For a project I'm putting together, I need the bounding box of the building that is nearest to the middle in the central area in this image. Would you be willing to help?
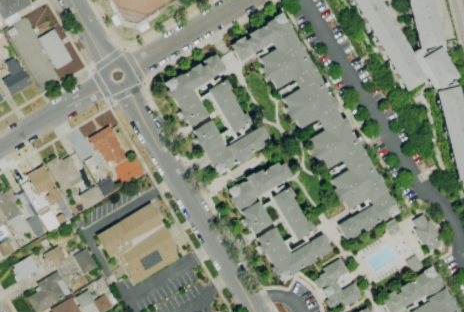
[194,121,270,173]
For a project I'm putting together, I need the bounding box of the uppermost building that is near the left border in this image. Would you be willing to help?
[0,0,30,26]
